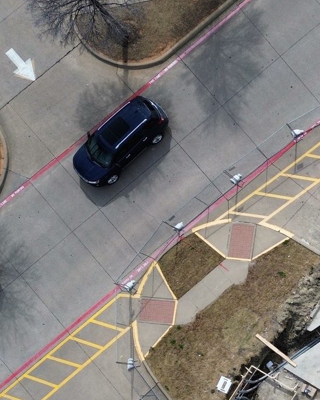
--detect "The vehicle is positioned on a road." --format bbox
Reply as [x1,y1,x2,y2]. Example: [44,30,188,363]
[71,94,169,188]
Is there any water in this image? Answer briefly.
No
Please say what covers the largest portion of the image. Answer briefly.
paved ground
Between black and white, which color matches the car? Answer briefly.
black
